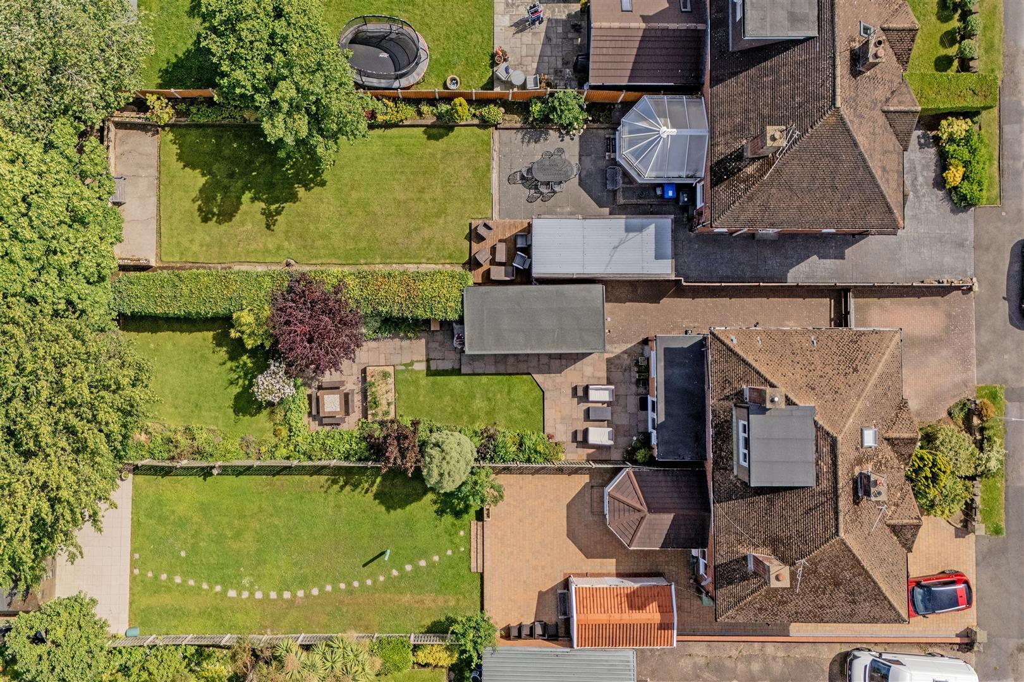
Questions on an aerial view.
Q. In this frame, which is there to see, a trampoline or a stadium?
trampoline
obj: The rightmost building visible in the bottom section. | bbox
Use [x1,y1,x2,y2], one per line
[696,327,924,625]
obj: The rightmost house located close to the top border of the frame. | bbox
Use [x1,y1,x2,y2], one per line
[692,0,922,249]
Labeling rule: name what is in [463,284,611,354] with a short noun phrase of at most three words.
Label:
building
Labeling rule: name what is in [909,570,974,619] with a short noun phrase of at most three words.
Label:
car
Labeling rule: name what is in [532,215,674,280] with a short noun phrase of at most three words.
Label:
building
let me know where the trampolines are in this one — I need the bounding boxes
[338,14,431,90]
